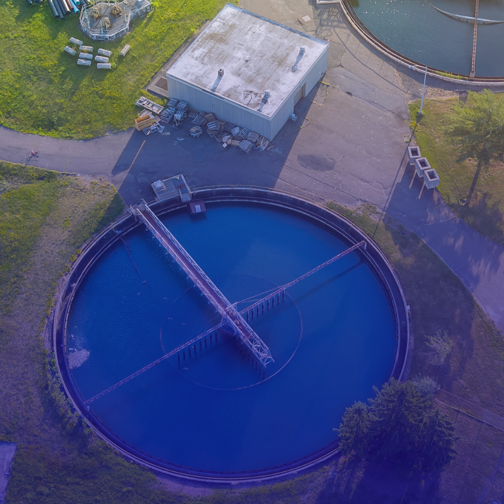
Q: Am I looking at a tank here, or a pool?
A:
tank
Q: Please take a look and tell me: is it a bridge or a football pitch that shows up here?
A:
bridge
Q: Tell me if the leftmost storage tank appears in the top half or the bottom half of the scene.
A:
bottom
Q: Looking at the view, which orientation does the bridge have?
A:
at an angle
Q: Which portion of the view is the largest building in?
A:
top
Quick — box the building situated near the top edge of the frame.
[164,8,330,140]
